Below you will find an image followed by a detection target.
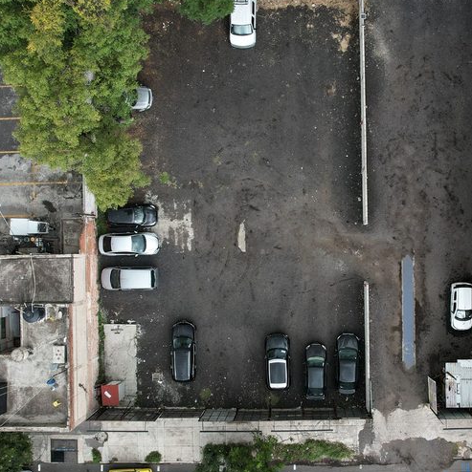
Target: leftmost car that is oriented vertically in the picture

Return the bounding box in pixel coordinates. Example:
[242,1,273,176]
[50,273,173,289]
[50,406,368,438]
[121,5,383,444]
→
[167,320,198,384]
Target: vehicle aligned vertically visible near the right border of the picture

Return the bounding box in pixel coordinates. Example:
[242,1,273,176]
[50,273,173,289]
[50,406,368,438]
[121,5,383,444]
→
[448,281,472,332]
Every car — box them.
[105,202,160,230]
[263,332,291,391]
[108,465,154,472]
[167,320,198,384]
[335,332,361,395]
[98,230,162,258]
[101,264,160,293]
[448,281,472,332]
[303,341,329,399]
[227,0,257,50]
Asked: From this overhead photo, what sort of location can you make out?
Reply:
parking lot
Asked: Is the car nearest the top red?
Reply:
No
